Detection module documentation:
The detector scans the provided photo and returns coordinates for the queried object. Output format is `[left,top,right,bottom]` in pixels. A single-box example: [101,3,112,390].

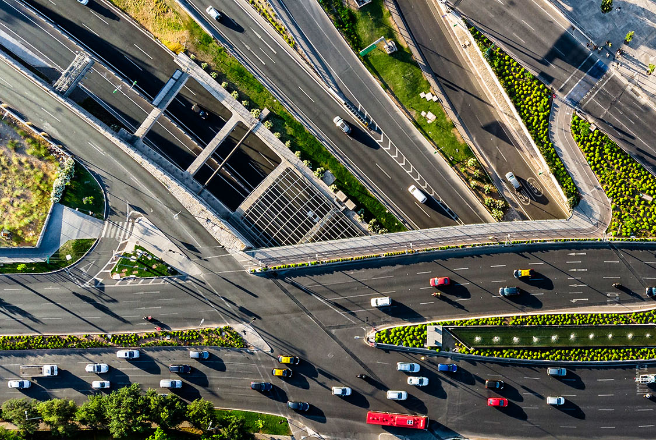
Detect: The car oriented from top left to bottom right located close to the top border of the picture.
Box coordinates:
[204,3,225,24]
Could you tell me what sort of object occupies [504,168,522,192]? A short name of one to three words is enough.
vehicle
